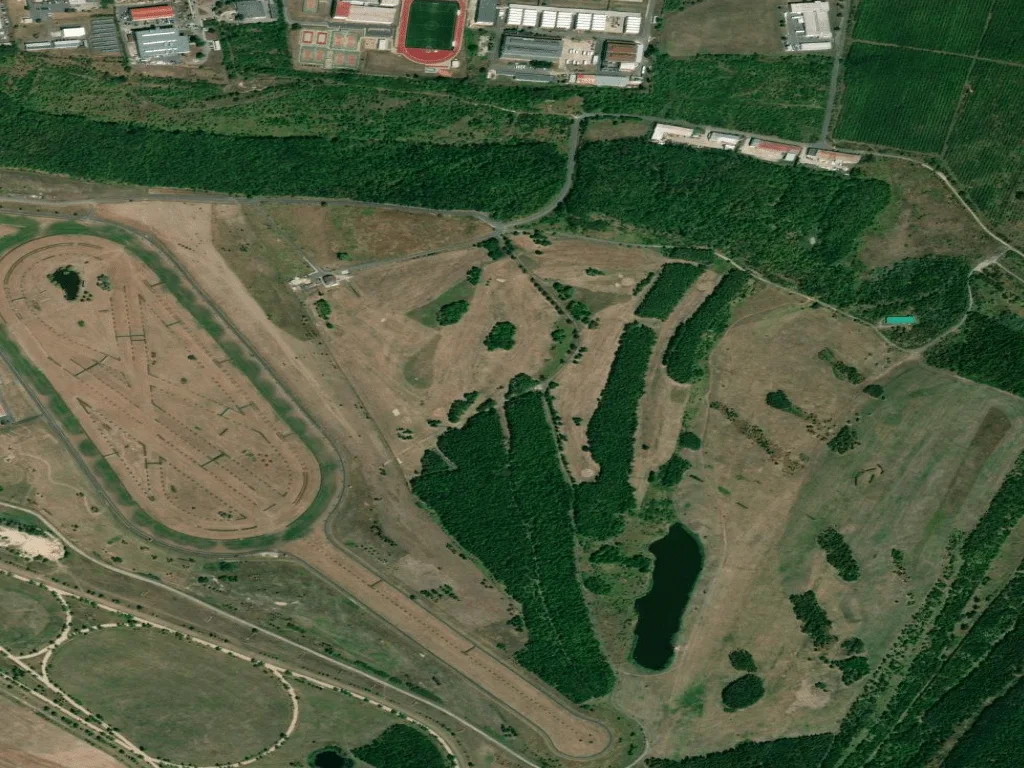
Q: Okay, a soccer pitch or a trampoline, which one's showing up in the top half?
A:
soccer pitch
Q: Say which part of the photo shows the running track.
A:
top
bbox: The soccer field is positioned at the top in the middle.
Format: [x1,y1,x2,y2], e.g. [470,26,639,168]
[405,1,459,50]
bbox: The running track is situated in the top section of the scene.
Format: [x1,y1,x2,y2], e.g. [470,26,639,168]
[396,0,469,66]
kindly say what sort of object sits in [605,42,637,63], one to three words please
building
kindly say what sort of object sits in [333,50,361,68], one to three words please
sports court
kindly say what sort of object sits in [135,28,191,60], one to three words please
building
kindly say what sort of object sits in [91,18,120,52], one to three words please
greenhouse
